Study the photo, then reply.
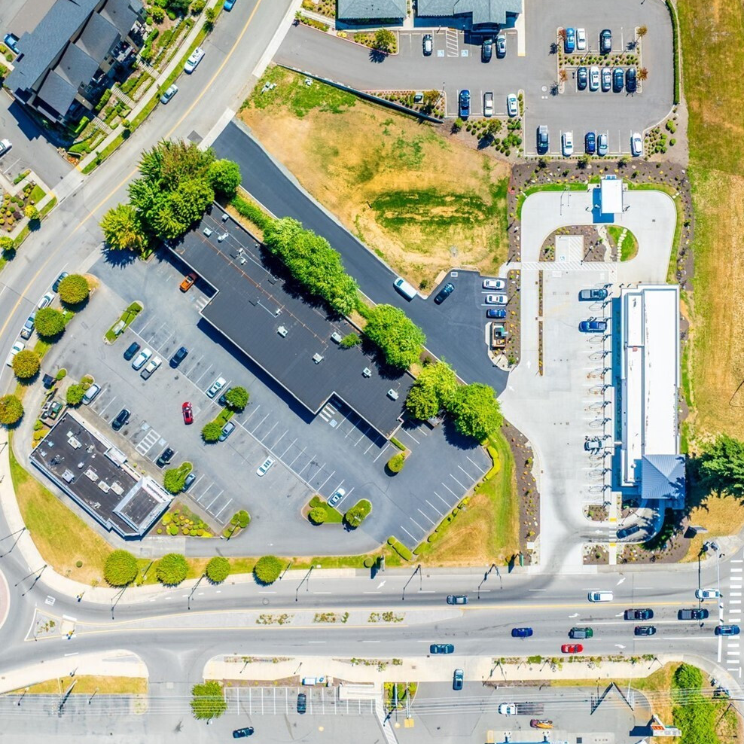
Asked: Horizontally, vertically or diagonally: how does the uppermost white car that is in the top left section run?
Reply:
diagonally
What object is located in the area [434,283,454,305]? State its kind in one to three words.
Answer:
car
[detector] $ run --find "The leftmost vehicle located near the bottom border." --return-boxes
[232,725,255,739]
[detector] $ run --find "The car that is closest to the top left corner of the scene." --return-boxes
[1,32,18,51]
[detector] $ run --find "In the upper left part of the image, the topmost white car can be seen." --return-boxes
[185,47,205,71]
